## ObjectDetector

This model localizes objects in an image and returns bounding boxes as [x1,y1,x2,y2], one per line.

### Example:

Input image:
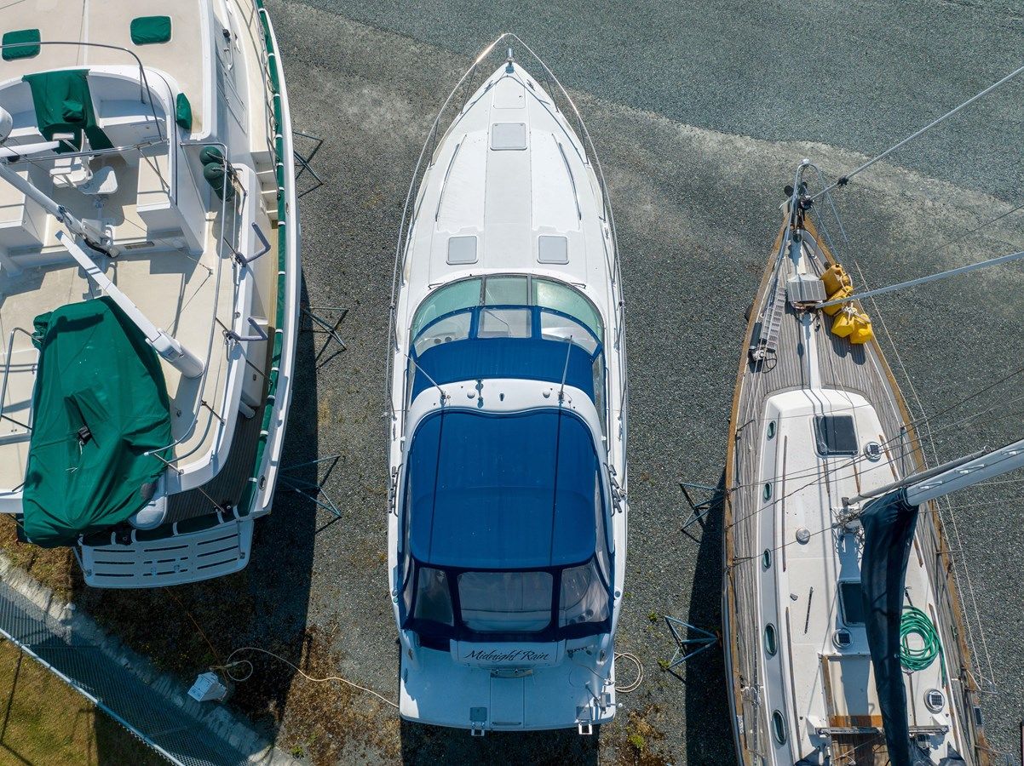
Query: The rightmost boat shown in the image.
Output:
[713,67,1024,766]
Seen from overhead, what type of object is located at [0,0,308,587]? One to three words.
boat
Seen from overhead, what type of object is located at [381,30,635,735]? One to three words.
boat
